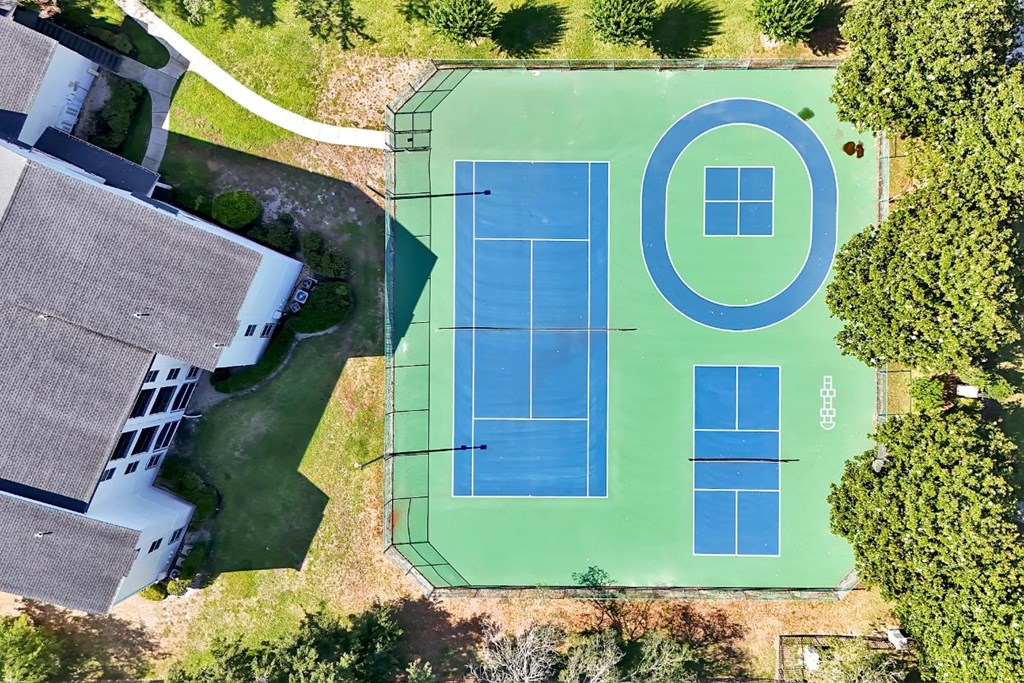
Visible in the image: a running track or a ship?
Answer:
running track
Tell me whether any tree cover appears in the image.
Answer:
Yes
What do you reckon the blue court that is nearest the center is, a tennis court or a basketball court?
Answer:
tennis court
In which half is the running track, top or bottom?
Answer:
top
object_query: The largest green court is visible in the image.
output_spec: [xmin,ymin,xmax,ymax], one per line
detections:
[392,68,879,588]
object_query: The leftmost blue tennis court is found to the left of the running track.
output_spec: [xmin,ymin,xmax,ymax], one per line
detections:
[452,160,609,497]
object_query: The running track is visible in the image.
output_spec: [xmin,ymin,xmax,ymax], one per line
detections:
[641,98,838,331]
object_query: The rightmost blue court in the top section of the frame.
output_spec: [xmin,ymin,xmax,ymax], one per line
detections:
[704,167,775,236]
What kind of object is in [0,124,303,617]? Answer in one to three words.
building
